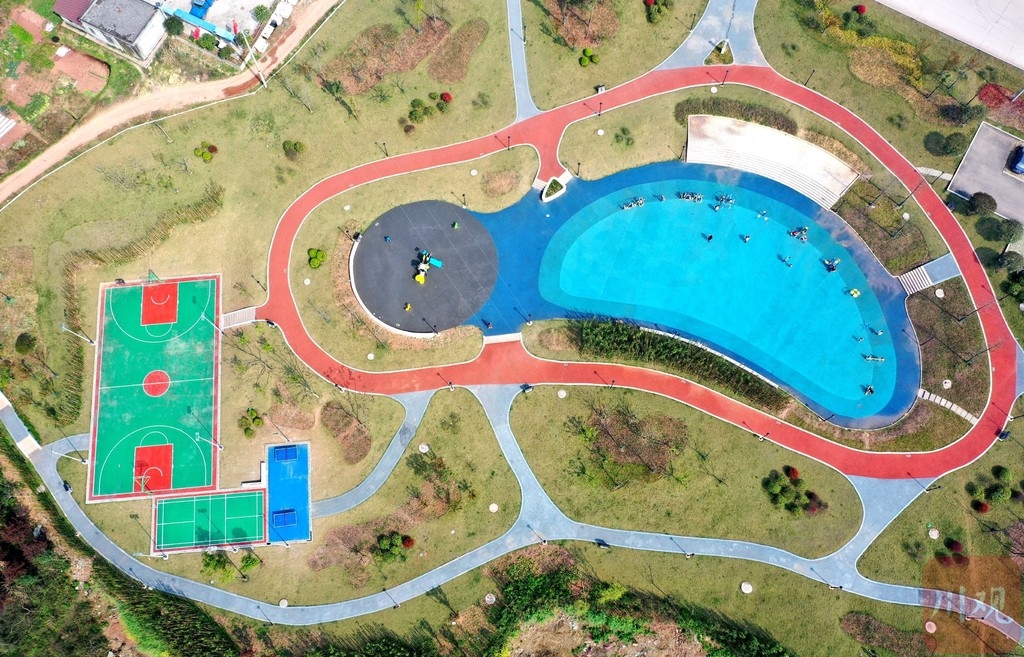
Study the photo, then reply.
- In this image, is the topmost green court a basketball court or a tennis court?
basketball court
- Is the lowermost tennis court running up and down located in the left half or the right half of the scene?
left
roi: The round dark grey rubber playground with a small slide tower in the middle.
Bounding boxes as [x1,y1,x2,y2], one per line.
[353,200,528,333]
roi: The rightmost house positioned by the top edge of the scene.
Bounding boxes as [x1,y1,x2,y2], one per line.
[79,0,165,56]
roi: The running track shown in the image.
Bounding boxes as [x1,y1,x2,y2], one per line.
[256,64,1017,479]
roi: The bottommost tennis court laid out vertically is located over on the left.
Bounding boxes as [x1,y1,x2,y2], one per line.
[266,441,311,545]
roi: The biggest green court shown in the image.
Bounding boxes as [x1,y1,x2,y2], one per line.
[86,273,221,503]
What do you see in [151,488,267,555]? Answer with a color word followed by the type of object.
green sports court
